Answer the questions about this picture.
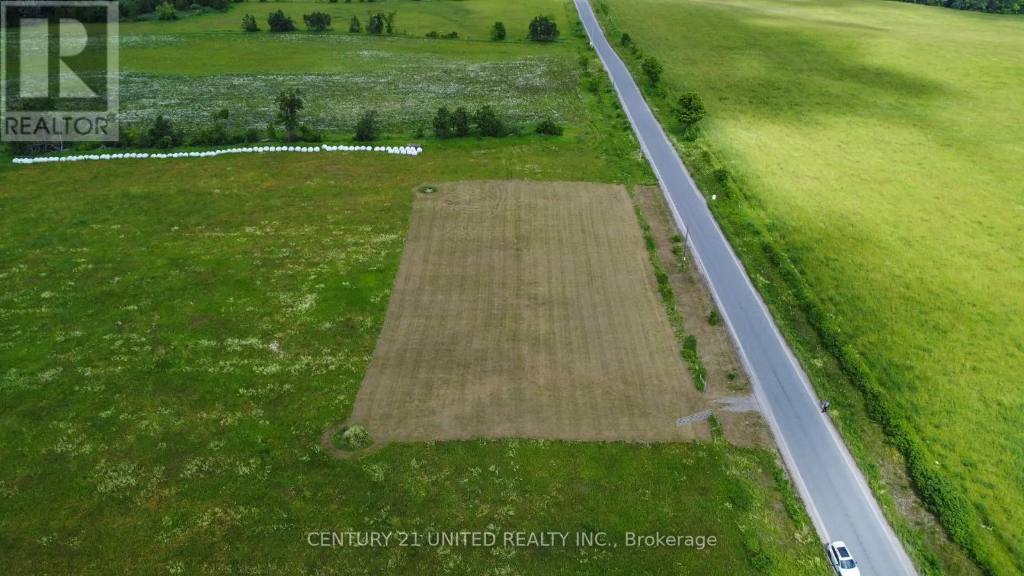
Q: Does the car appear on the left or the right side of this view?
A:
right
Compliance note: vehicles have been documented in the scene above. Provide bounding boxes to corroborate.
[830,539,866,576]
